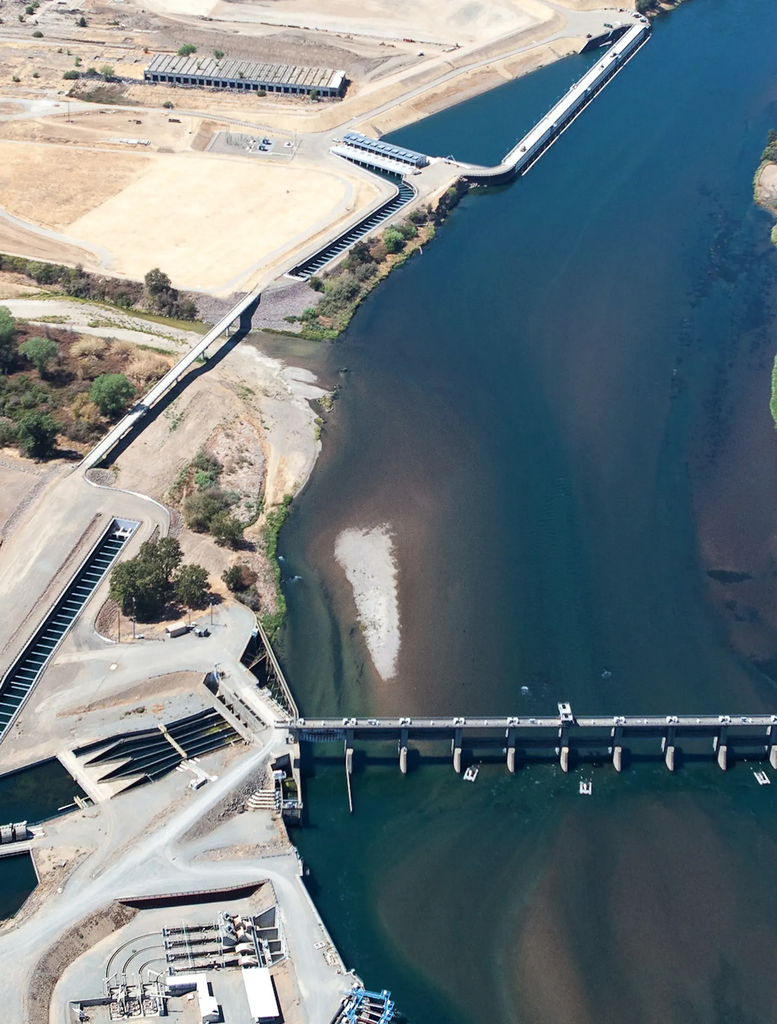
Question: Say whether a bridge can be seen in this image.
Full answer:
Yes, there's a bridge down there.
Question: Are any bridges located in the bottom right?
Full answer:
No, in the bottom right there is no bridge.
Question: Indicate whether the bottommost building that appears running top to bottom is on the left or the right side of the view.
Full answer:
The bottommost building that appears running top to bottom appears in the left half of the scene.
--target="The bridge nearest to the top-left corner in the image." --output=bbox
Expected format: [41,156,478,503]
[64,285,262,537]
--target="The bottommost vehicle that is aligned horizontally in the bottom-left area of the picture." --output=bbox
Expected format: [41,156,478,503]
[186,777,209,789]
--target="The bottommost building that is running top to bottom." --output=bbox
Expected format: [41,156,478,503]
[242,967,279,1024]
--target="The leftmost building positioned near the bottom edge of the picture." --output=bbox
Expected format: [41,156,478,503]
[166,974,219,1024]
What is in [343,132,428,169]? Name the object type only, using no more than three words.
building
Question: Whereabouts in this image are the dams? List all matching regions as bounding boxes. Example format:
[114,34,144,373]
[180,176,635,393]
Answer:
[289,713,777,783]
